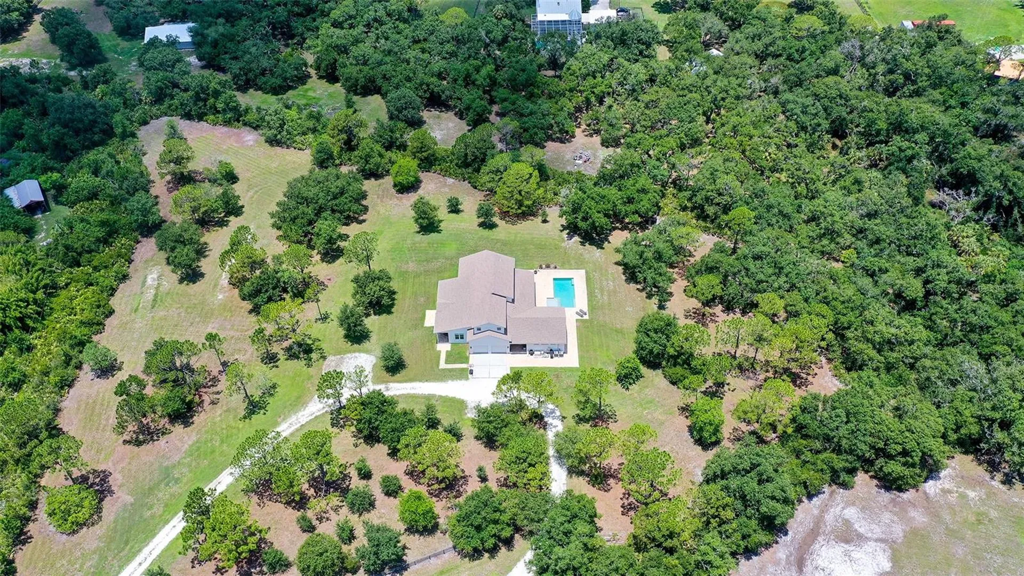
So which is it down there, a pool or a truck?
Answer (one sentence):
The one in the frame is a pool.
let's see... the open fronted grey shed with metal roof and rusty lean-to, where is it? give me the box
[2,180,52,223]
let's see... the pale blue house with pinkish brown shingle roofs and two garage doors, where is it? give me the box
[434,251,568,354]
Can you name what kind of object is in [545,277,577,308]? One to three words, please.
swimming pool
